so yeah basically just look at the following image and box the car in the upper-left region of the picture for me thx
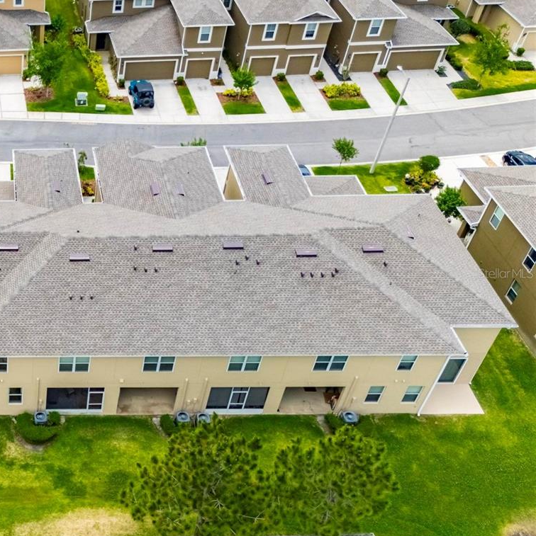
[127,81,157,107]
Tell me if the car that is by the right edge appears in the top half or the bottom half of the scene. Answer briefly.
top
